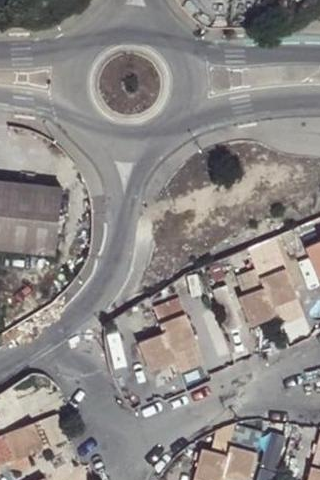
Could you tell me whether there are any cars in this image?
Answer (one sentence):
Yes, there's a car here.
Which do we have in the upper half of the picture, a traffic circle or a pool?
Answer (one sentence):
What appears in the upper half of the picture is a traffic circle.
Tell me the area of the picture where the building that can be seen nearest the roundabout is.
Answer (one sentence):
The building that can be seen nearest the roundabout is located in the left region of the scene.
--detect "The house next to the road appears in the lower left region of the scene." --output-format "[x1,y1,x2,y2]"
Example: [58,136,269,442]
[0,412,71,471]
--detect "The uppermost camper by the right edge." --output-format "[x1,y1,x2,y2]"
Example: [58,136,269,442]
[300,258,320,289]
